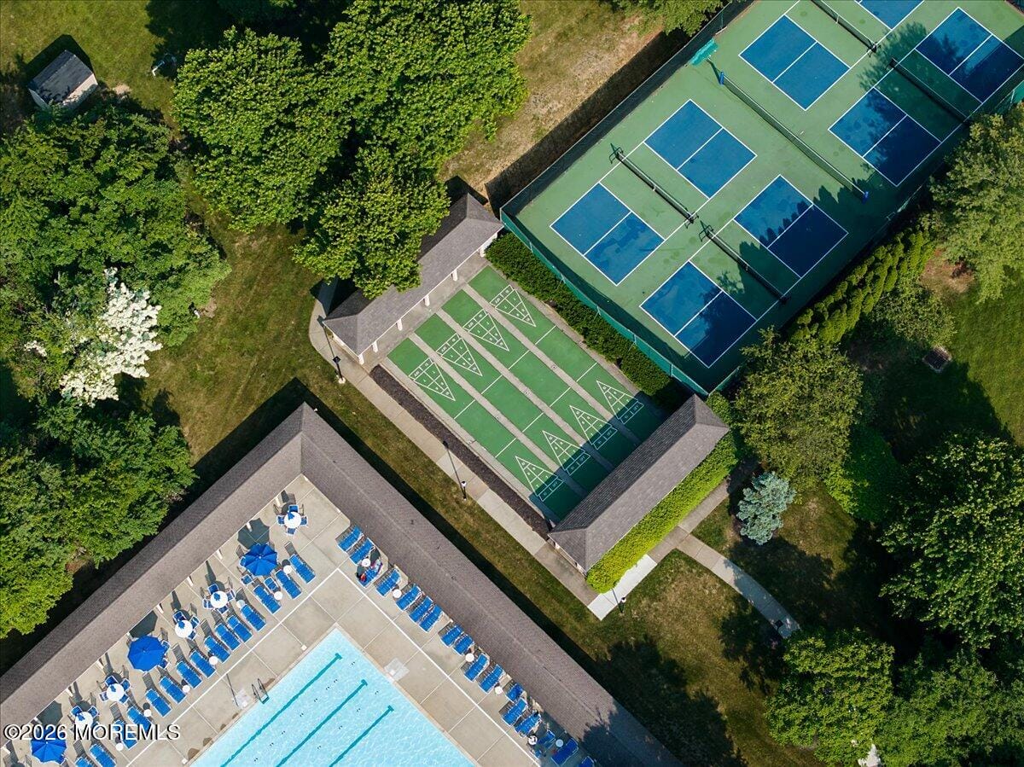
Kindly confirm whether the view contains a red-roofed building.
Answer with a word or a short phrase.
No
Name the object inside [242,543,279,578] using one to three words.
umbrella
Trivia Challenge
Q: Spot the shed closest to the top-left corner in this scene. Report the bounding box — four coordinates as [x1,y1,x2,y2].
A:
[27,51,99,123]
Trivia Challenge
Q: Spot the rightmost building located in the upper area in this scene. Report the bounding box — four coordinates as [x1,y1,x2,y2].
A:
[323,192,504,367]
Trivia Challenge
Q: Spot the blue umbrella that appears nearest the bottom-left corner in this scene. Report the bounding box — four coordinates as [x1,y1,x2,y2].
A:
[31,726,67,764]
